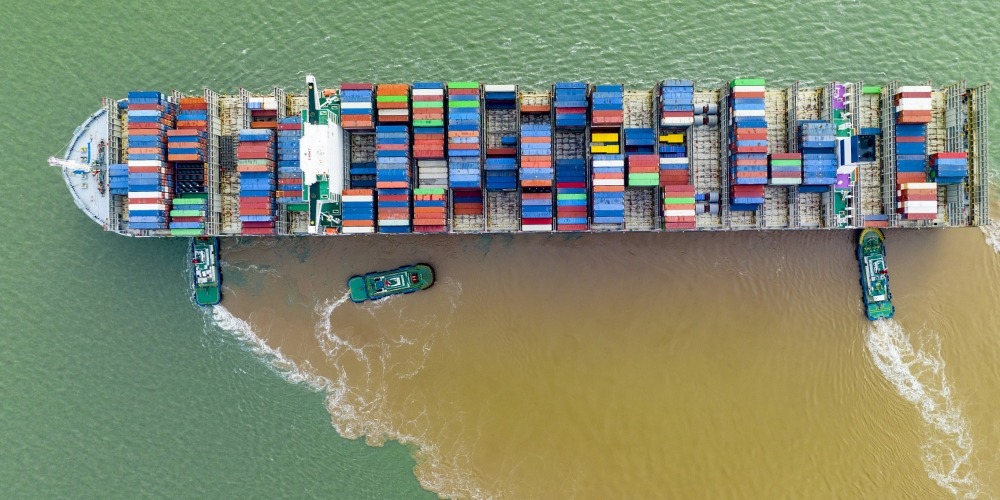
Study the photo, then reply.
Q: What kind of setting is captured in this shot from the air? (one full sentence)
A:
This image shows a port.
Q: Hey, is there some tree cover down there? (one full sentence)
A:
No, the scene doesn't show any tree cover.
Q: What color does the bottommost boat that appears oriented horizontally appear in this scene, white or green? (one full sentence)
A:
From above, the bottommost boat that appears oriented horizontally appears green.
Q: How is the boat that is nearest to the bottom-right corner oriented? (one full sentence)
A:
What the image shows is the boat that is nearest to the bottom-right corner lying up and down.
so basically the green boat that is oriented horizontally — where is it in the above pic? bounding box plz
[347,263,436,304]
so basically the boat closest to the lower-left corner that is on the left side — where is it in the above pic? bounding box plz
[184,236,222,306]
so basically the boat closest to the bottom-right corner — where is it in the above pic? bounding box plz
[859,230,900,320]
